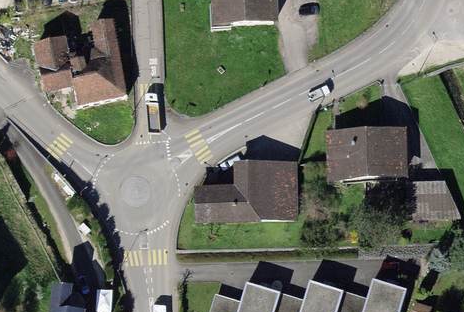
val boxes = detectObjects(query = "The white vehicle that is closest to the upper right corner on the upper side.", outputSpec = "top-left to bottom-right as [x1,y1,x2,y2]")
[306,82,333,100]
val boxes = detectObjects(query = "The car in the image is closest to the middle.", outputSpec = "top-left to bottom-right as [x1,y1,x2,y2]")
[220,154,242,169]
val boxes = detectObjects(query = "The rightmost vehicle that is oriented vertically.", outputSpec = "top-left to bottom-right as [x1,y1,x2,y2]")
[144,92,160,134]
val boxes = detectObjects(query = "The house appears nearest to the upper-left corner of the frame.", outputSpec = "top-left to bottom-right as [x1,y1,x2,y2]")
[32,36,69,70]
